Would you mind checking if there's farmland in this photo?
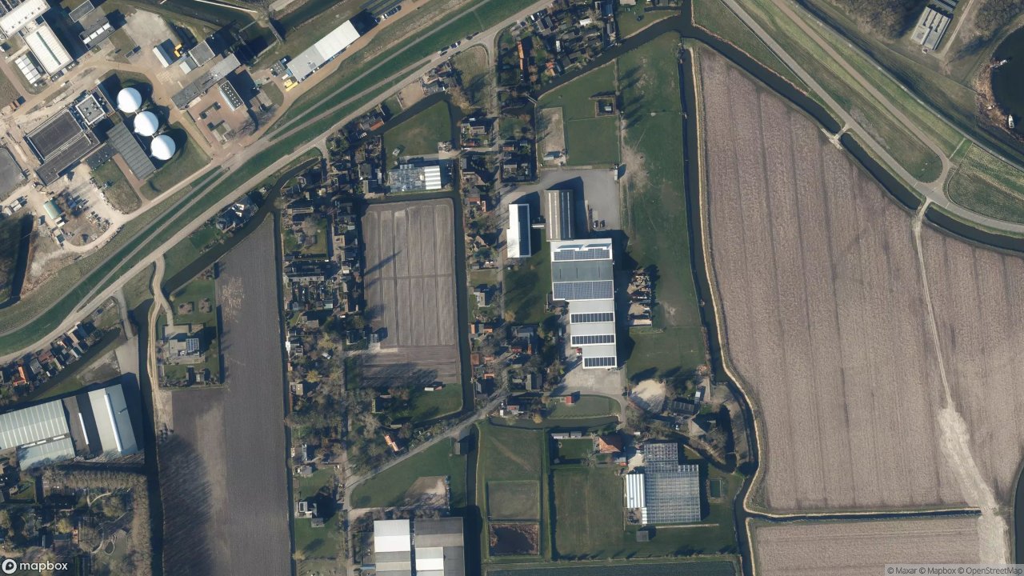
Yes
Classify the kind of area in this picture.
residential area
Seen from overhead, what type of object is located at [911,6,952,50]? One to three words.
building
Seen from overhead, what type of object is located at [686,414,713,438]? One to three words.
house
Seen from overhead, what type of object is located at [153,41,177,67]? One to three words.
shed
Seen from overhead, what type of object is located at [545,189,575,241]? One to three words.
barn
